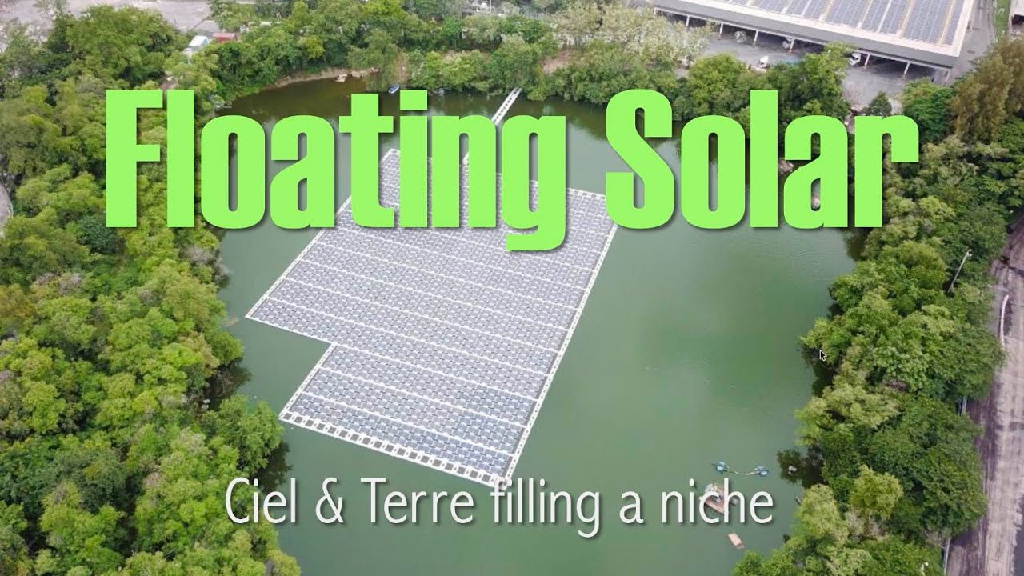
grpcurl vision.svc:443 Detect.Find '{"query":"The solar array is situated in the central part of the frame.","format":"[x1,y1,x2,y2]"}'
[246,149,624,489]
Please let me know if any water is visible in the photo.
Yes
